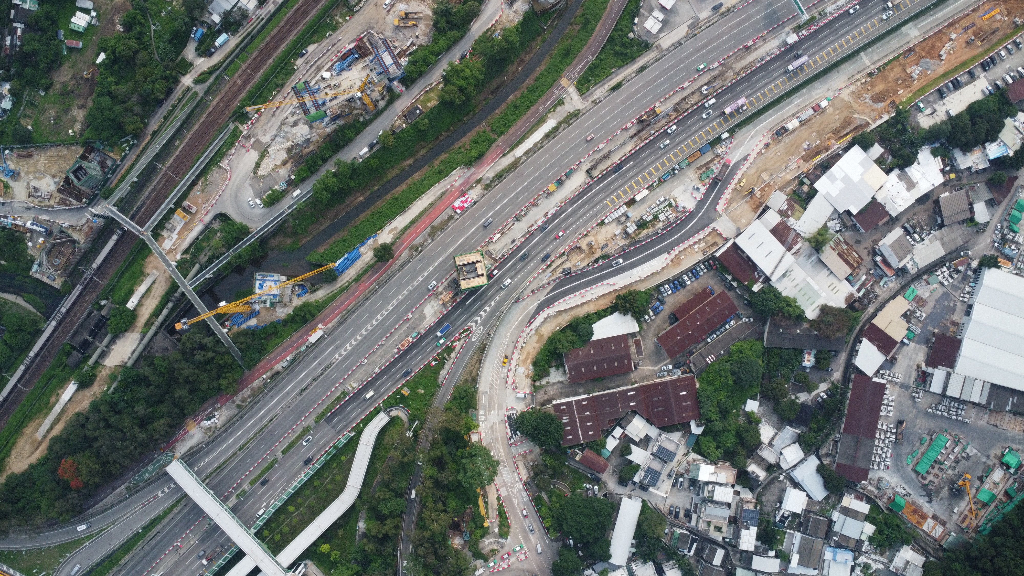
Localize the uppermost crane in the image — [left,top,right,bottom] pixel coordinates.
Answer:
[246,72,376,112]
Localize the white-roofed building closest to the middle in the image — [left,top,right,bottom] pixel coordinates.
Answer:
[589,312,639,340]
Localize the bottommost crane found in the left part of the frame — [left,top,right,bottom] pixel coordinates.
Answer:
[175,261,336,330]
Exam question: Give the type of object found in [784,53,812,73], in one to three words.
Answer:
vehicle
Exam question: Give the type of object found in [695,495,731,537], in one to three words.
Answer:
house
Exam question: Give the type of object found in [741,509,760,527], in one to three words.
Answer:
solar array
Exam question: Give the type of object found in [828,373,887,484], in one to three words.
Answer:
building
